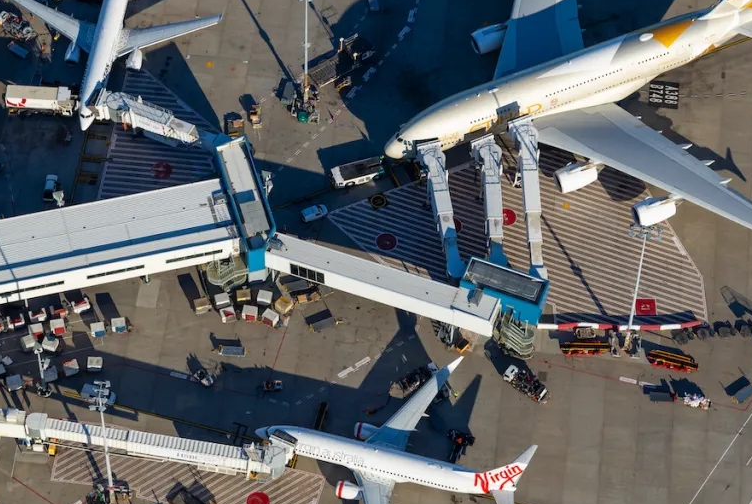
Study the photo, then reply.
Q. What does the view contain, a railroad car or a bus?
bus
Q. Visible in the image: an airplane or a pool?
airplane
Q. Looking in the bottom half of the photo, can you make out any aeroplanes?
Yes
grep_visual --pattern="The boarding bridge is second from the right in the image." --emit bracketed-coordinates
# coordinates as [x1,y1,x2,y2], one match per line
[465,132,507,266]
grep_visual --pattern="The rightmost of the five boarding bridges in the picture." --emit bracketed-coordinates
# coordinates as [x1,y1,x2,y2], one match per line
[502,114,549,279]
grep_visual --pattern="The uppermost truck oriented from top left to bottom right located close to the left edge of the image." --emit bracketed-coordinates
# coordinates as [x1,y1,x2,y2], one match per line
[0,11,40,44]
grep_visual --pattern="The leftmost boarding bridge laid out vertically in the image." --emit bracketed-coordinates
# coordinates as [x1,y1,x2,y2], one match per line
[410,138,463,282]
